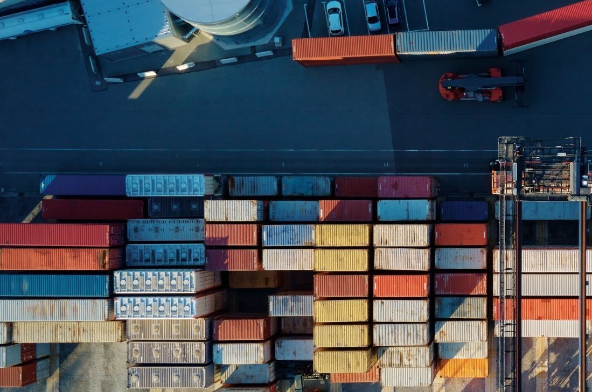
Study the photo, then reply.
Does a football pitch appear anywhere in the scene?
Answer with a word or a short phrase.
No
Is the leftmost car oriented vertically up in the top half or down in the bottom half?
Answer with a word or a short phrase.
top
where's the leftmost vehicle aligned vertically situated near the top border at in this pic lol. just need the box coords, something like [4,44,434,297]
[325,0,346,37]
